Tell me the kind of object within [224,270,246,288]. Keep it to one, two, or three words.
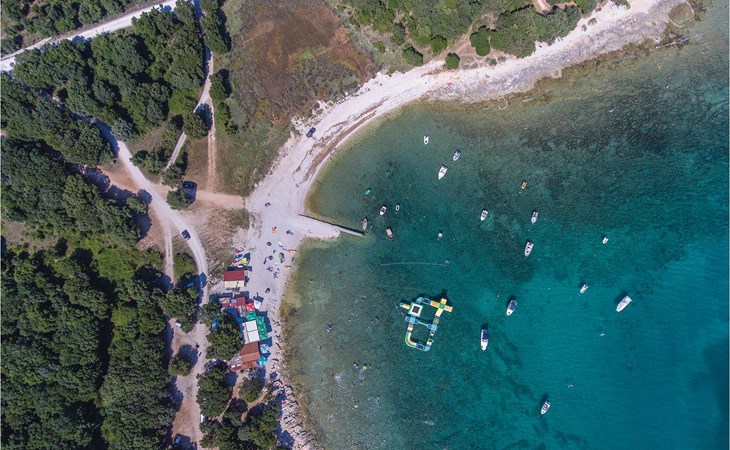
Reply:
house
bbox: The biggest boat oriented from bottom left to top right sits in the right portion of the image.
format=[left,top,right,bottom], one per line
[617,294,633,313]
